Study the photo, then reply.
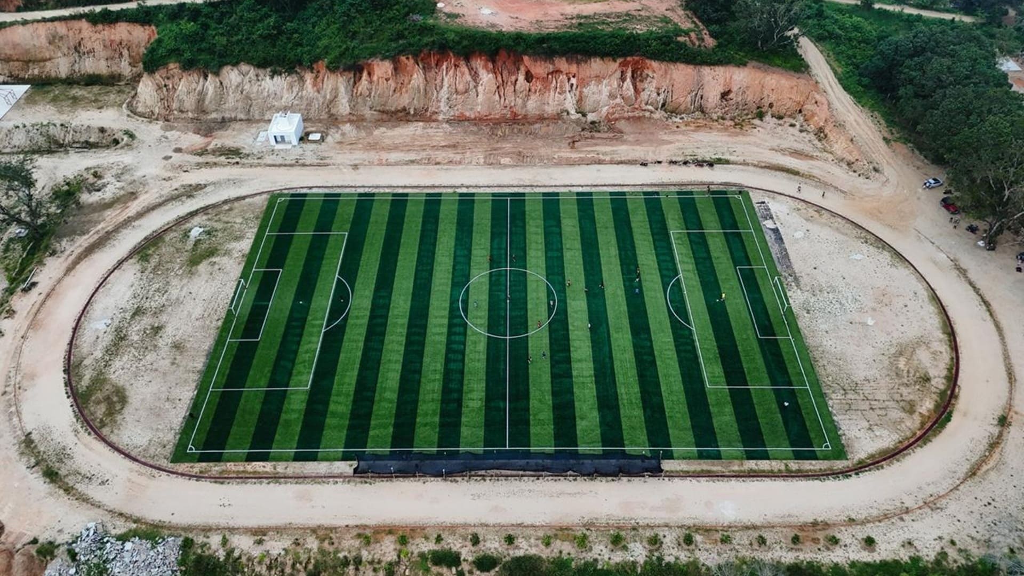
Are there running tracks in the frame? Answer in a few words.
Yes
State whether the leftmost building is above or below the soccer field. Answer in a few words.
above it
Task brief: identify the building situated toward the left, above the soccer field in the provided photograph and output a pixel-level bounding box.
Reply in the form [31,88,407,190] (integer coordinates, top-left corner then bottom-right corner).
[269,111,306,142]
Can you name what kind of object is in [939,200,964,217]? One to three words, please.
vehicle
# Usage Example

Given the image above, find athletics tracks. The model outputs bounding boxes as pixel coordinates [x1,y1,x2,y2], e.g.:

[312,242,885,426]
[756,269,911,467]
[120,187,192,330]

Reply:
[11,161,1012,532]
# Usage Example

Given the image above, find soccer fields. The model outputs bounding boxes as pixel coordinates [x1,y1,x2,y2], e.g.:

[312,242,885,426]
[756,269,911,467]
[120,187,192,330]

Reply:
[168,191,846,462]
